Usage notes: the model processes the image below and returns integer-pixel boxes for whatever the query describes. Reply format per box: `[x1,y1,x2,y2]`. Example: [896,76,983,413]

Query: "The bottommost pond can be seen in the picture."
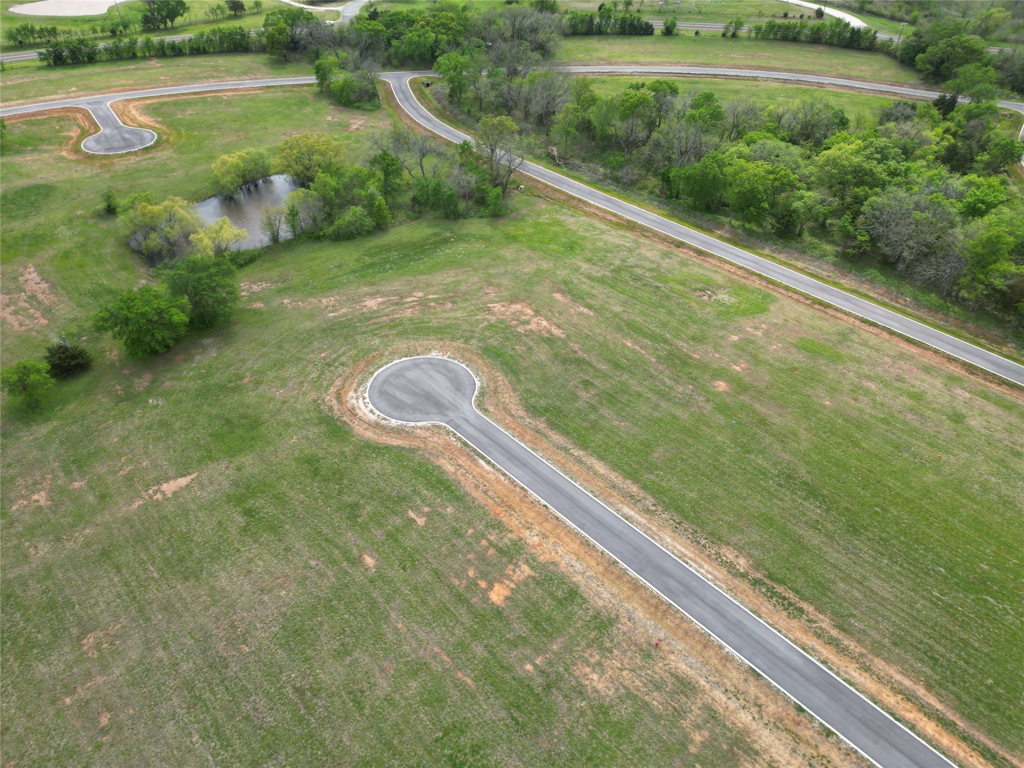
[133,176,310,268]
